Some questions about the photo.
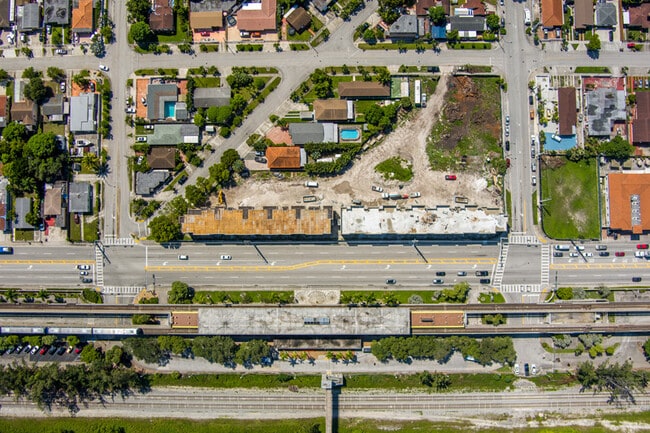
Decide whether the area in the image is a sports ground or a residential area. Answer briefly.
residential area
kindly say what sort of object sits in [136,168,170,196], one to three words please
house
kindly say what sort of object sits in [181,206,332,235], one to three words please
building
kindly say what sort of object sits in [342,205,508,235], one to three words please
building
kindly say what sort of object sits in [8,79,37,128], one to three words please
house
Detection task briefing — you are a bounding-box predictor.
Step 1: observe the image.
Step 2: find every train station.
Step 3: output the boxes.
[169,306,467,335]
